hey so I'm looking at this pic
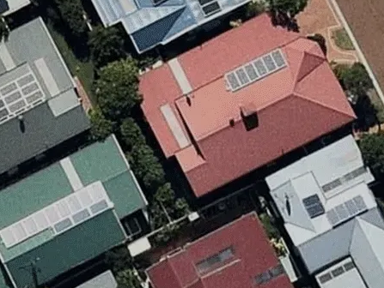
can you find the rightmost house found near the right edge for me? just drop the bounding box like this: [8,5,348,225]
[264,133,384,288]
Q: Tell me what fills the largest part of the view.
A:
buildings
